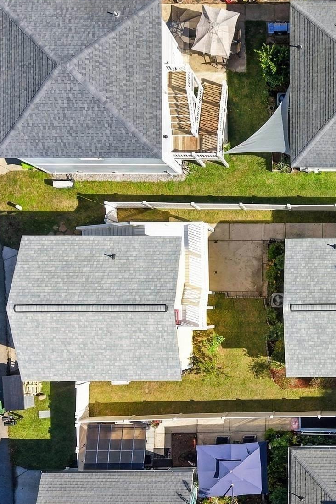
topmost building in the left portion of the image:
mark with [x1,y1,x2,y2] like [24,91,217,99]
[0,0,185,178]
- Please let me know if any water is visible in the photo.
No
